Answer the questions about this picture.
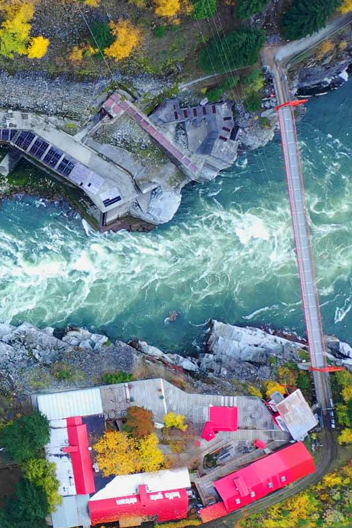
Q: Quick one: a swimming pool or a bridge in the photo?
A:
bridge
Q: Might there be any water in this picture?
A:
Yes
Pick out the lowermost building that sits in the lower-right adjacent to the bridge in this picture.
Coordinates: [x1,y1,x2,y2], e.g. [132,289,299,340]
[199,440,316,525]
